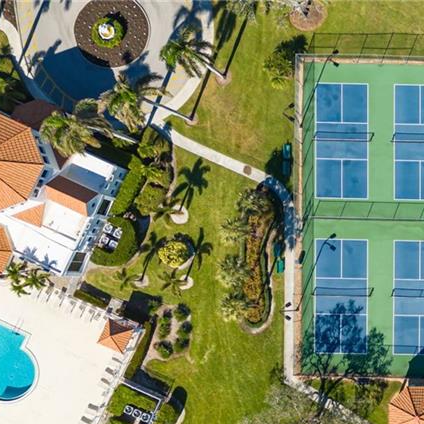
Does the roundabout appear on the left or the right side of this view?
left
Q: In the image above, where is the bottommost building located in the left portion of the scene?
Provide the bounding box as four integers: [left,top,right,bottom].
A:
[97,317,144,354]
